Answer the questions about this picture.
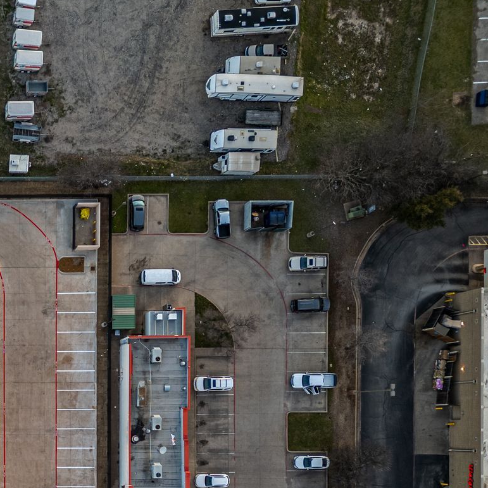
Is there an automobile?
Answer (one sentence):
Yes, an automobile can be made out from above.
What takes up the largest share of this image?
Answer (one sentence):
Most of the picture is covered by paved ground.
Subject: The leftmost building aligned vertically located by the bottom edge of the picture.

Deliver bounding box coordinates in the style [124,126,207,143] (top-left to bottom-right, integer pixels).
[118,304,190,488]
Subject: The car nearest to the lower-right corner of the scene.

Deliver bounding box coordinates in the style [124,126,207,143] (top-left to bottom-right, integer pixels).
[292,454,330,470]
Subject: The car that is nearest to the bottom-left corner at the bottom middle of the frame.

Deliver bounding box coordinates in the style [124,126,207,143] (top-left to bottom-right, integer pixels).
[194,473,230,488]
